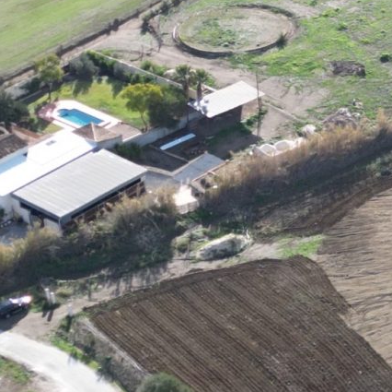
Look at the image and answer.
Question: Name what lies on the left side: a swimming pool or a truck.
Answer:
swimming pool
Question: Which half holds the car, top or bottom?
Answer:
bottom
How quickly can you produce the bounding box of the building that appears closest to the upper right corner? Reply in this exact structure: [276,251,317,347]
[181,77,271,141]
